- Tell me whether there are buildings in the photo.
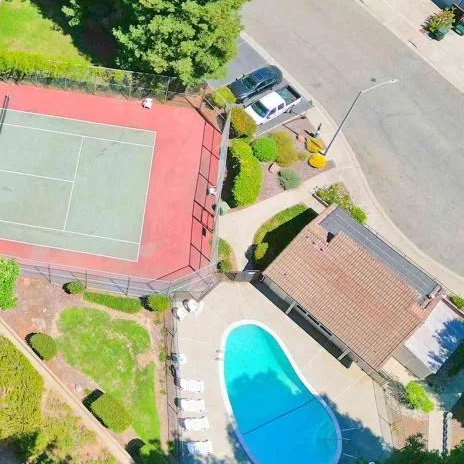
Yes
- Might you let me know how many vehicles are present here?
two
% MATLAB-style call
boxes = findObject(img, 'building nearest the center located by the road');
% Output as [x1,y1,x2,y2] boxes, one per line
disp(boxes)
[262,199,443,369]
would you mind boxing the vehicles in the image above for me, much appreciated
[246,76,309,124]
[224,65,282,102]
